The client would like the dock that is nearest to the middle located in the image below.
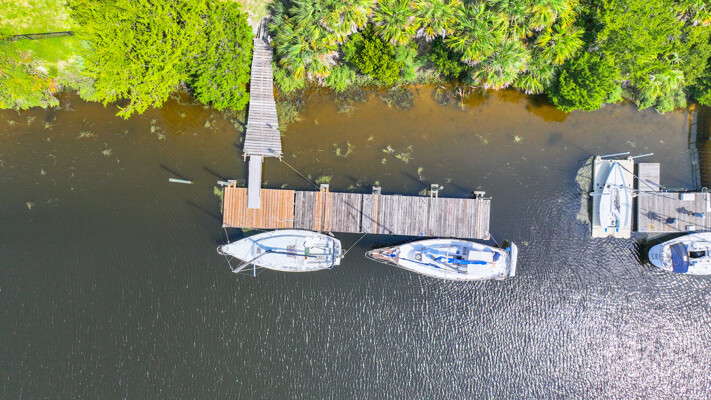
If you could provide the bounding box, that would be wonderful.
[295,191,360,233]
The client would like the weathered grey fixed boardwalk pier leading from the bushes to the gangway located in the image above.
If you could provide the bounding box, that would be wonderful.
[242,38,285,162]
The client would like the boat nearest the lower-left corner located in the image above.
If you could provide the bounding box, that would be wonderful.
[215,231,347,276]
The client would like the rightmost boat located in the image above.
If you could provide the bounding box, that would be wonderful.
[644,231,711,276]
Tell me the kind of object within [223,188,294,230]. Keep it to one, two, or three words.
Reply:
pier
